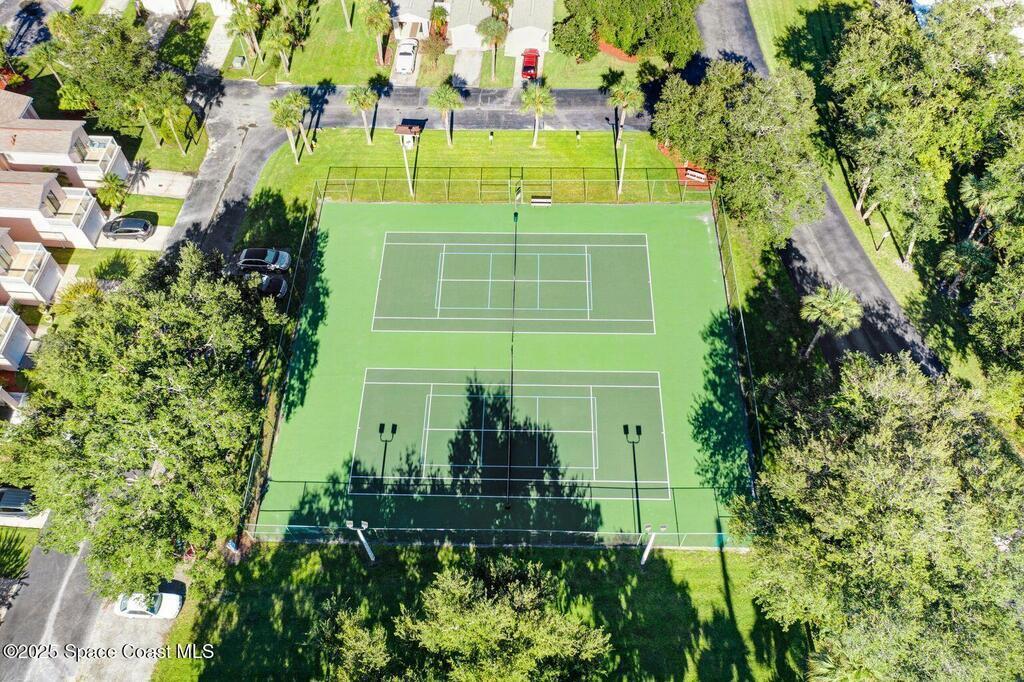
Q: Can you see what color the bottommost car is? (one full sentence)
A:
In this view, the bottommost car is white.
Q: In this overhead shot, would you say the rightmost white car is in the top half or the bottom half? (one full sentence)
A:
It is in the top half that the rightmost white car appears.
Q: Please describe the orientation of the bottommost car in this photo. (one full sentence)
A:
The bottommost car is laid out from left to right.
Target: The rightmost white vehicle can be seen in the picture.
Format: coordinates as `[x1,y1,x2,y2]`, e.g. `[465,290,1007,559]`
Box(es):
[393,41,416,74]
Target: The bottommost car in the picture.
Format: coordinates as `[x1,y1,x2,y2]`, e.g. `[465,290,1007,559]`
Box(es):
[111,590,183,622]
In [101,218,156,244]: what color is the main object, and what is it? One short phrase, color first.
gray car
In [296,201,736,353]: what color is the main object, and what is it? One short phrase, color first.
green tennis court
